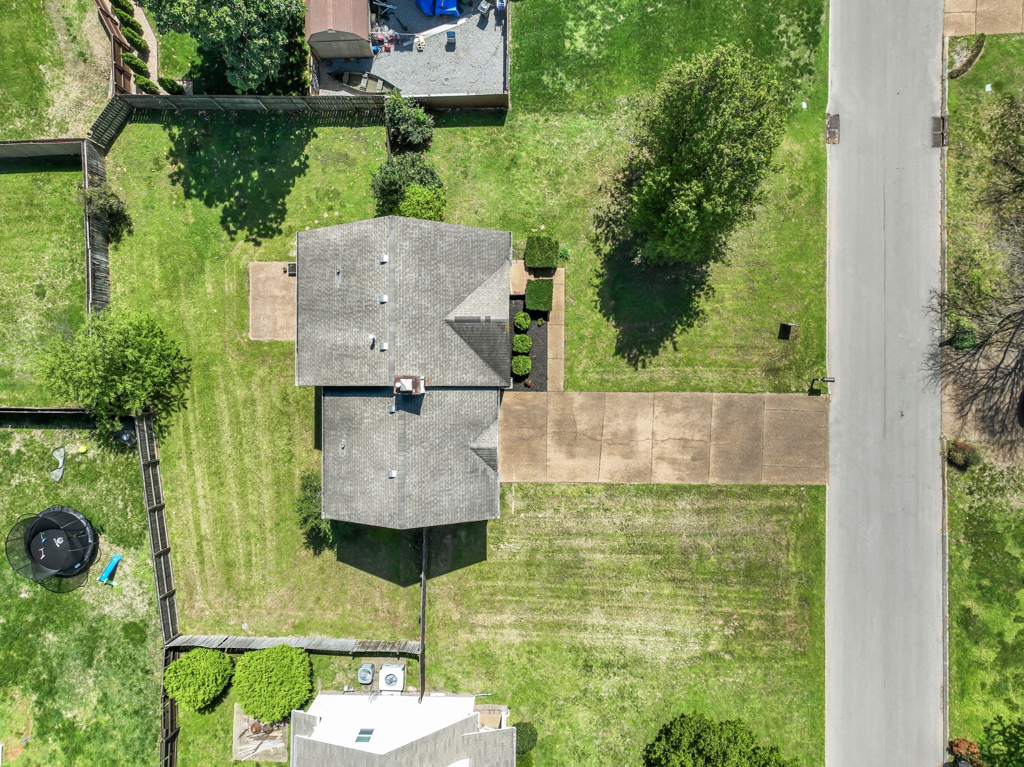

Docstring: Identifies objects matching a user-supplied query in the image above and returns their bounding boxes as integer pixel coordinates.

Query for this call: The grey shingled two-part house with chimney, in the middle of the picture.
[295,215,535,531]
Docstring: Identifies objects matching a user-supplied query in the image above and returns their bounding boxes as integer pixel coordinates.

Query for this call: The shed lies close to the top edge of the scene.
[308,0,375,58]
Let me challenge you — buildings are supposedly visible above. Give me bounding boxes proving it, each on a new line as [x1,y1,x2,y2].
[308,0,375,58]
[295,215,535,531]
[291,684,517,767]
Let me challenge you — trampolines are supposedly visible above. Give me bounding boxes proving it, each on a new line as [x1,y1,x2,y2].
[4,503,108,587]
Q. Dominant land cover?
grass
